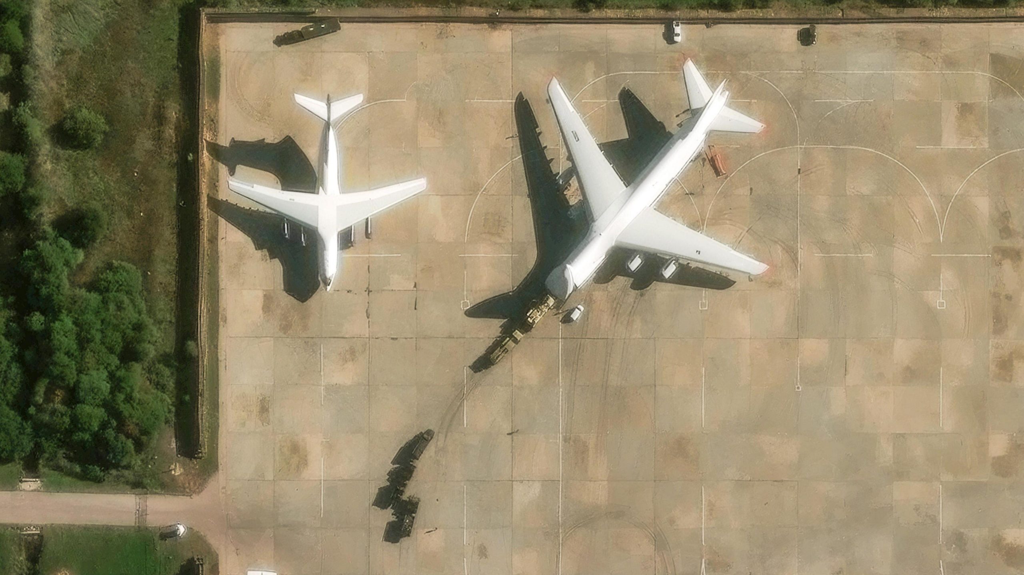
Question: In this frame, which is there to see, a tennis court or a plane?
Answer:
plane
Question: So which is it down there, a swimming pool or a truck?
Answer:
truck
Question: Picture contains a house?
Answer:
No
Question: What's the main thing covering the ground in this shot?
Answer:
paved ground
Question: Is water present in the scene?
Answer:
No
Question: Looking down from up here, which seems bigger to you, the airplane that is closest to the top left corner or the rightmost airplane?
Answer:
the rightmost airplane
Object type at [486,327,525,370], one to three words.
truck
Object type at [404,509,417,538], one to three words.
vehicle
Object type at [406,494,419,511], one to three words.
vehicle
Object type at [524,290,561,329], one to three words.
truck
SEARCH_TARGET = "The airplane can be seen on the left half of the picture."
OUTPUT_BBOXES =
[230,92,427,290]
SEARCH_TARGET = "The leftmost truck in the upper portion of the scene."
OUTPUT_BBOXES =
[276,19,340,46]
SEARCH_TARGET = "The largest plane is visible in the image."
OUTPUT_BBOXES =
[544,59,768,307]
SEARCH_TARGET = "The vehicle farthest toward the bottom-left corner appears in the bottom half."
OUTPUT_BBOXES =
[157,526,186,542]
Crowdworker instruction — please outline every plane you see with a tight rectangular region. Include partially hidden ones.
[544,59,768,307]
[230,92,427,290]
